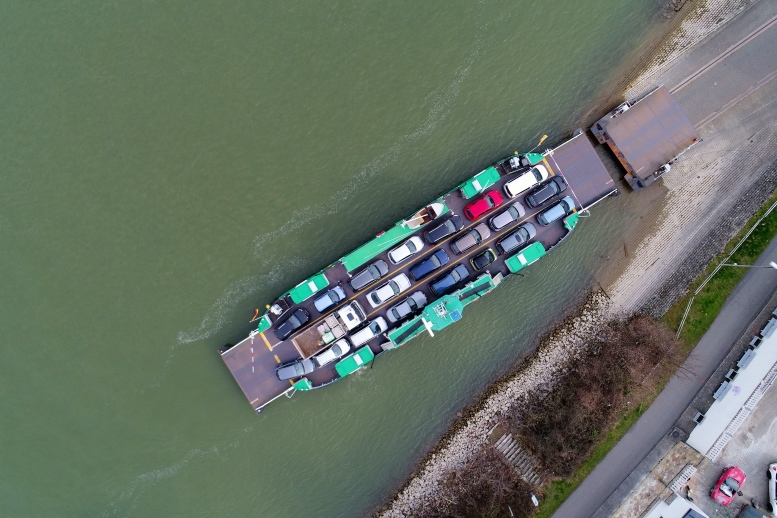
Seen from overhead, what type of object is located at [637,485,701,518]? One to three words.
building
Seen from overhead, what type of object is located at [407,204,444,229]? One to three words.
boat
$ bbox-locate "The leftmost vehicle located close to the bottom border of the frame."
[709,464,746,505]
